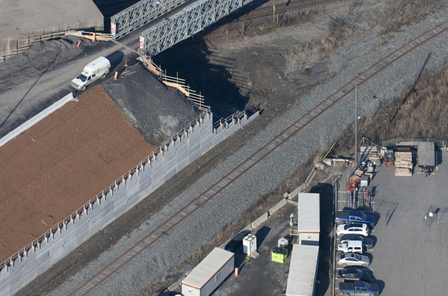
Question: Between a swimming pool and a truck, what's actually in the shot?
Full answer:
I can see a truck in this picture.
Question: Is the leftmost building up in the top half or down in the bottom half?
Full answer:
You can find the leftmost building in the bottom half.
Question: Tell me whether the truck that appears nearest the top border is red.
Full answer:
No, the truck that appears nearest the top border is actually white.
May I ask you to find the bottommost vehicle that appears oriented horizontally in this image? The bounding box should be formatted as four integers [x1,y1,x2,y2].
[338,277,381,295]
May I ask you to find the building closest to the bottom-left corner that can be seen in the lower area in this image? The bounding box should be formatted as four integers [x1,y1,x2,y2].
[173,243,243,296]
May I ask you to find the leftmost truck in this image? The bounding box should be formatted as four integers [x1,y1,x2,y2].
[74,52,110,84]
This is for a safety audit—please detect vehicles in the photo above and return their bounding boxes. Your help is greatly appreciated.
[74,52,110,84]
[337,264,371,278]
[335,235,366,252]
[337,220,368,233]
[335,206,377,224]
[340,231,374,245]
[337,251,371,266]
[338,277,381,295]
